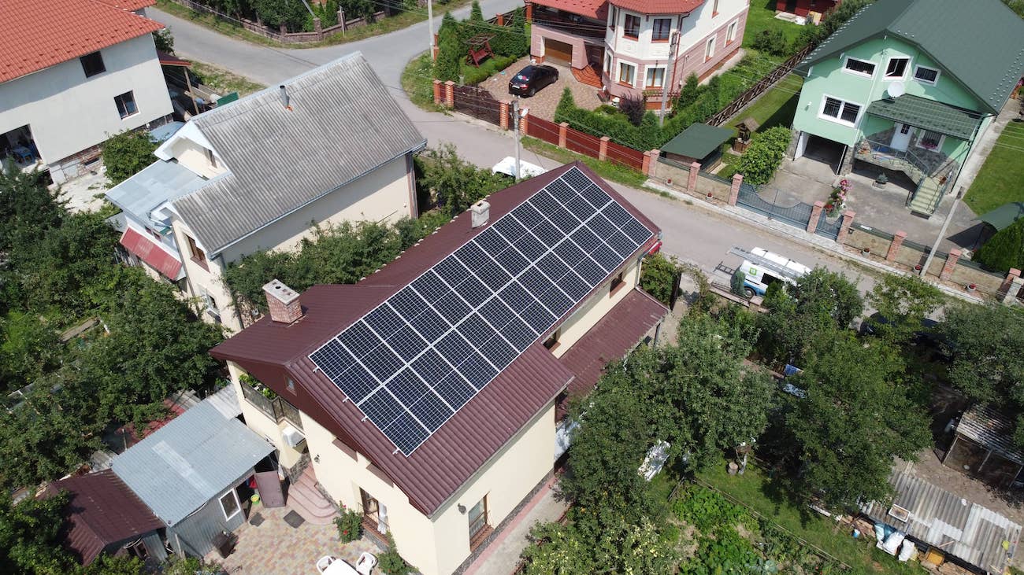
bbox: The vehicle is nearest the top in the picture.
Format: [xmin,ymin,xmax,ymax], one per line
[505,58,561,94]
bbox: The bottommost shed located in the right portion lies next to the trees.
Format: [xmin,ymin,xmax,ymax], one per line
[854,464,1024,575]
